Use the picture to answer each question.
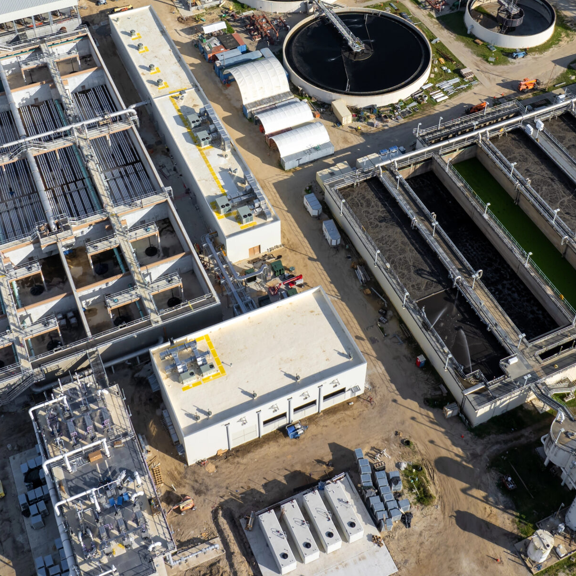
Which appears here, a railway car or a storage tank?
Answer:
storage tank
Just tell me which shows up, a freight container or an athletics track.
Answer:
freight container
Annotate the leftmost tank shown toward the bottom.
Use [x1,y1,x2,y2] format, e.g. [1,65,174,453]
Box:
[259,509,297,576]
